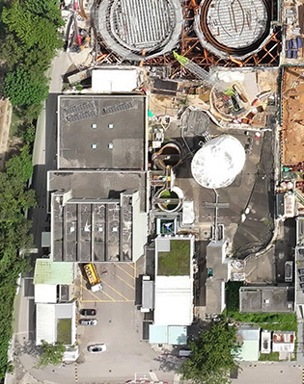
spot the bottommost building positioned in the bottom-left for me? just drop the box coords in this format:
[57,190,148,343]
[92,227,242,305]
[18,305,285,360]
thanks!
[35,297,82,358]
